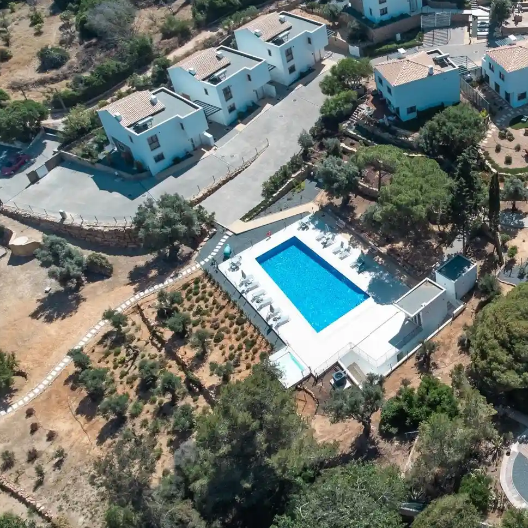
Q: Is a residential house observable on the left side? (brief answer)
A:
Yes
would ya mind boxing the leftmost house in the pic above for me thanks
[96,84,214,175]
